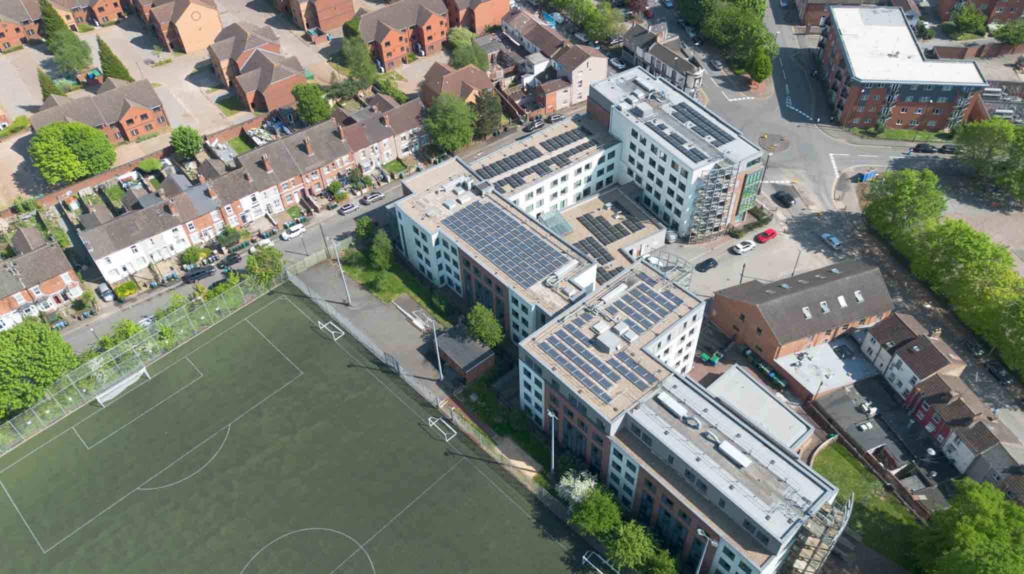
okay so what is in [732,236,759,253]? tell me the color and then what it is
white car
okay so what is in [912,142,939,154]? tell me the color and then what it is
black vehicle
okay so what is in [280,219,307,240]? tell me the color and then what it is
white vehicle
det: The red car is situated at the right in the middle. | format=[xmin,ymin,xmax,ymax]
[755,225,778,240]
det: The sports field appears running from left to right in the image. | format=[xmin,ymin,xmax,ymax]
[0,283,601,574]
